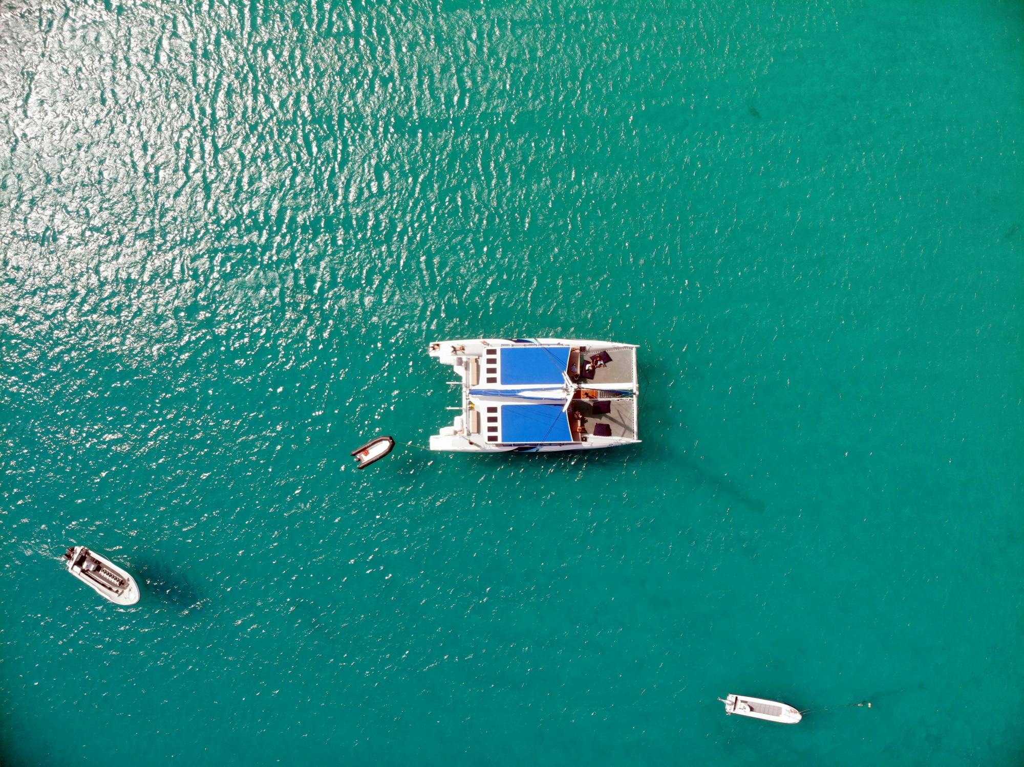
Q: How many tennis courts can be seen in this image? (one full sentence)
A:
No tennis courts are visible.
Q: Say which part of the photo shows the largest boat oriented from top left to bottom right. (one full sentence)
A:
The largest boat oriented from top left to bottom right is in the bottom left part of the image.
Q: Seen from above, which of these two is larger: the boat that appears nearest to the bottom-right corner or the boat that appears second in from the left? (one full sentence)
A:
The boat that appears second in from the left is smaller than the boat that appears nearest to the bottom-right corner.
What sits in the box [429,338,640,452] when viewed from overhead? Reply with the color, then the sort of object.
white boat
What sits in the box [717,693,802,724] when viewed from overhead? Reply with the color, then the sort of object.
white boat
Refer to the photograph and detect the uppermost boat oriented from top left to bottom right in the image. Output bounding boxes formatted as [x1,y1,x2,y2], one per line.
[64,544,143,606]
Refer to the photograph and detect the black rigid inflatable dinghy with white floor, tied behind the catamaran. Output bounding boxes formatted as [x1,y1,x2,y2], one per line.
[350,436,395,468]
